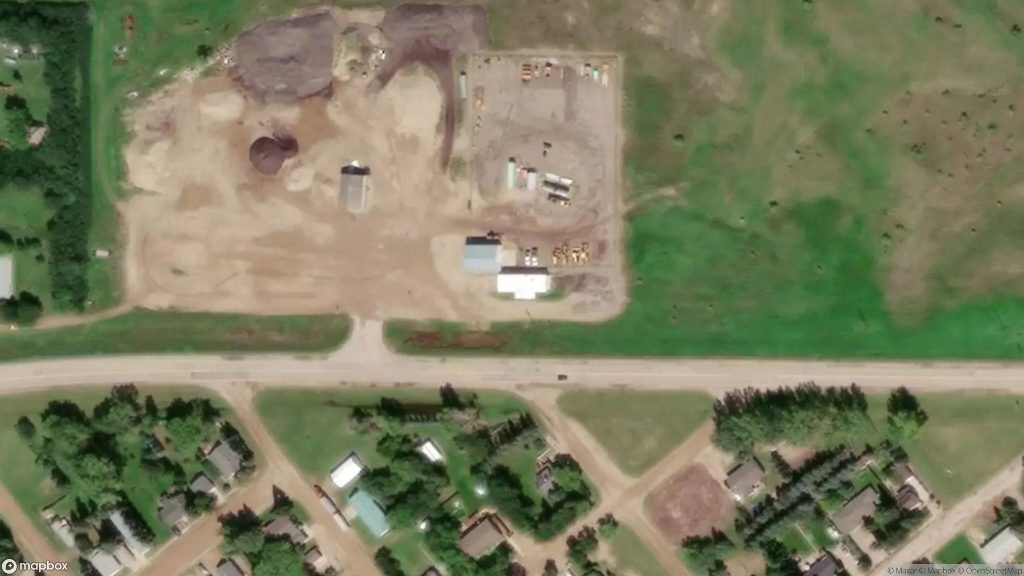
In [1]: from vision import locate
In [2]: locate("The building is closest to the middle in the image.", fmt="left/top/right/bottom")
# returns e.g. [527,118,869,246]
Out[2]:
[497,274,550,298]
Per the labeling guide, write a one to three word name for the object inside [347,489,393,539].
shed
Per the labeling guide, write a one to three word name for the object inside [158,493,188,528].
house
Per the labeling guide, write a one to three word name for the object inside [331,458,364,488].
shed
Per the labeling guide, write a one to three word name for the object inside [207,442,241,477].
house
